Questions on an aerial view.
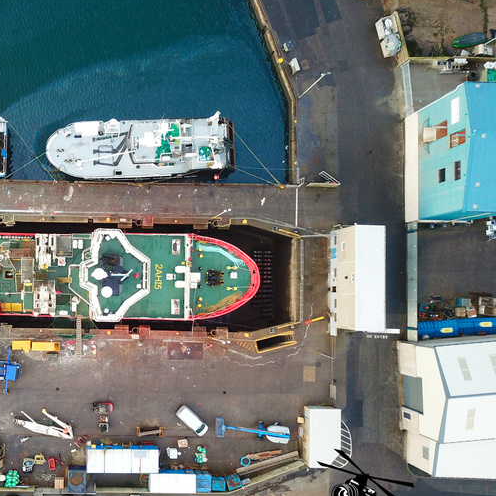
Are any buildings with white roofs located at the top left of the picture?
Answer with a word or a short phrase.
No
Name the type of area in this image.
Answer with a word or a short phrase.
port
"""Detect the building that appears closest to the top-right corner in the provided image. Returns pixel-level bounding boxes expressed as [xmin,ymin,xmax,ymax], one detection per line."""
[405,79,496,220]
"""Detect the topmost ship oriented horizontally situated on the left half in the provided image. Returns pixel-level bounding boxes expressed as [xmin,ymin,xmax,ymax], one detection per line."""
[47,110,235,181]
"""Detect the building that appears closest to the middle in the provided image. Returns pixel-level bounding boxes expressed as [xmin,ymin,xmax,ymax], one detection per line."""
[328,220,387,337]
